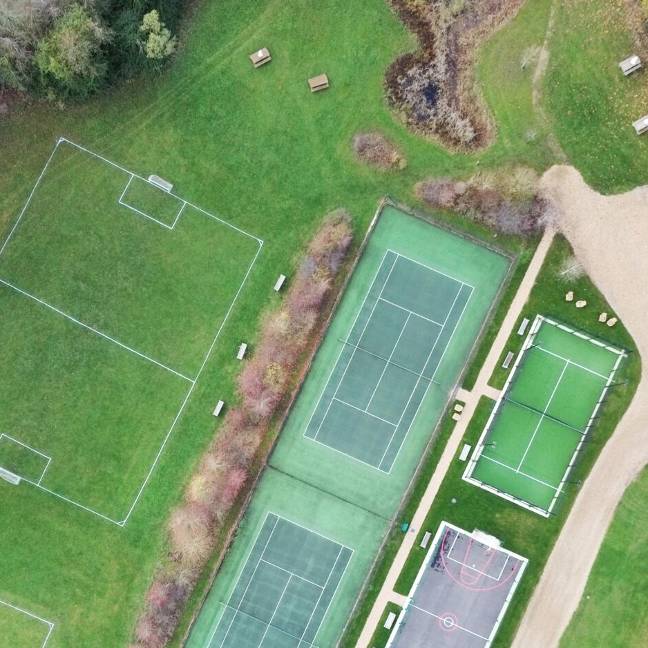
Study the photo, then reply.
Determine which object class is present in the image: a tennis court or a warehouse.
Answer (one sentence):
Looking from above, you can make out a tennis court.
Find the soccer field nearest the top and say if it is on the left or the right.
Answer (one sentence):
The soccer field nearest the top is on the left side of the image.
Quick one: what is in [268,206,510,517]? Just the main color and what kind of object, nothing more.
green tennis court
